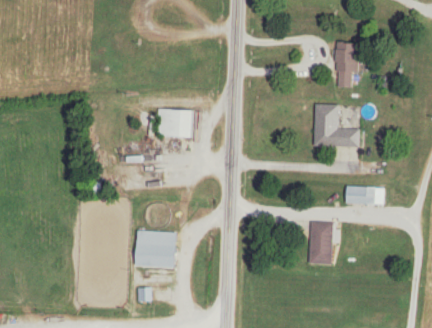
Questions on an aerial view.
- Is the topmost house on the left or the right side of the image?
right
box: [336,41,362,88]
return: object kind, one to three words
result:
house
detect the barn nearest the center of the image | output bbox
[158,108,196,140]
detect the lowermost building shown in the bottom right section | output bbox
[310,222,333,264]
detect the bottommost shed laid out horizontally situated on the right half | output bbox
[346,186,387,206]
